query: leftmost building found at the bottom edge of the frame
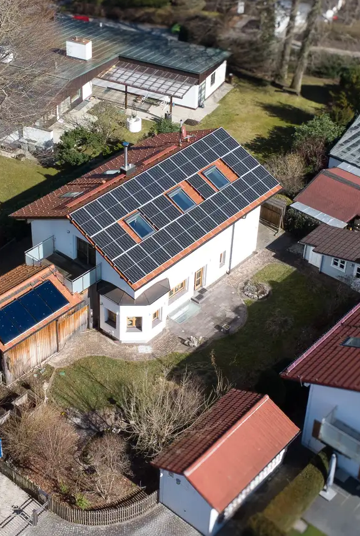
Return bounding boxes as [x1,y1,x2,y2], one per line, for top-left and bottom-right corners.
[148,387,301,536]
